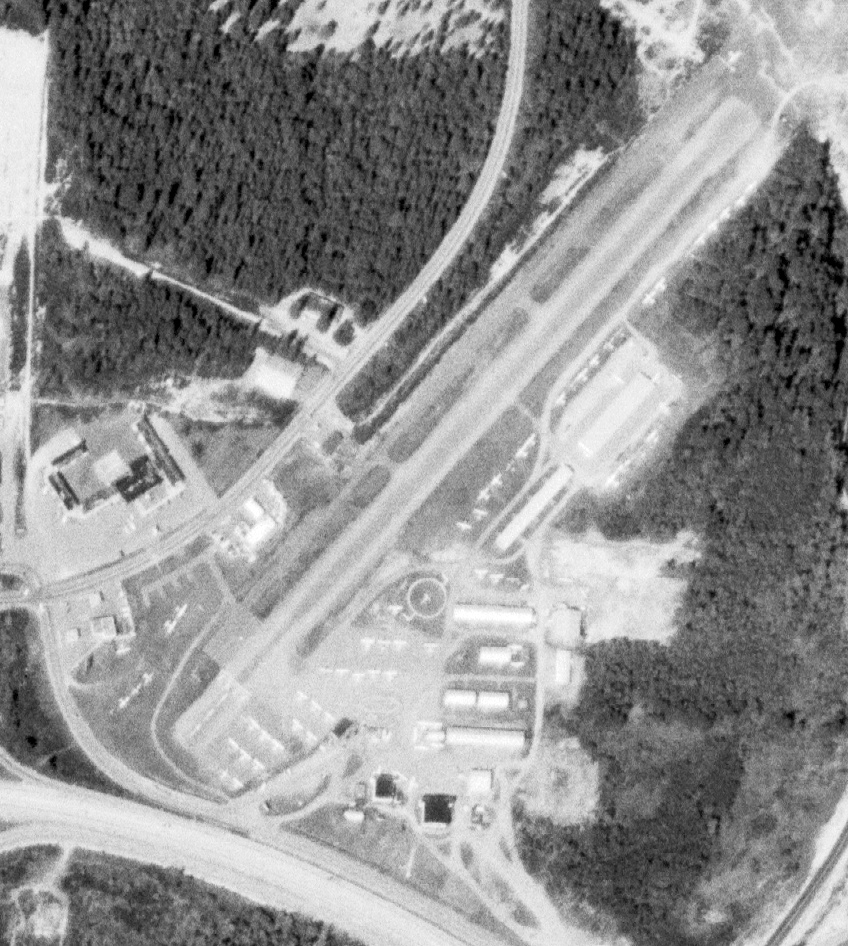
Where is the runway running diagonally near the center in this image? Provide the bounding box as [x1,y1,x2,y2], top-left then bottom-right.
[171,100,749,746]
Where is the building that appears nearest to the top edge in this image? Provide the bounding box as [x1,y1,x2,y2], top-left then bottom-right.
[286,294,335,333]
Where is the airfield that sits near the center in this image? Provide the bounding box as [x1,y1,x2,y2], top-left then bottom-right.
[150,75,778,946]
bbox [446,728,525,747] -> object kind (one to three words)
hangar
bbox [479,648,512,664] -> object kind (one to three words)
hangar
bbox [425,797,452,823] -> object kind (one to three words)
building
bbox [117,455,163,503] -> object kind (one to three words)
building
